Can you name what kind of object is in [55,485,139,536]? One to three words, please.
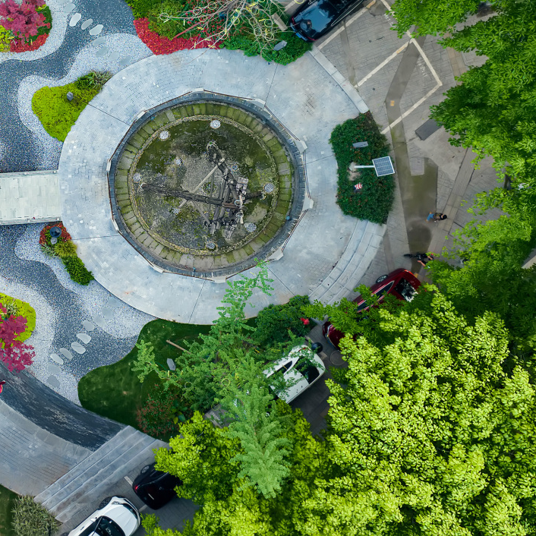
car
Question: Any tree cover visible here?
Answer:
Yes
